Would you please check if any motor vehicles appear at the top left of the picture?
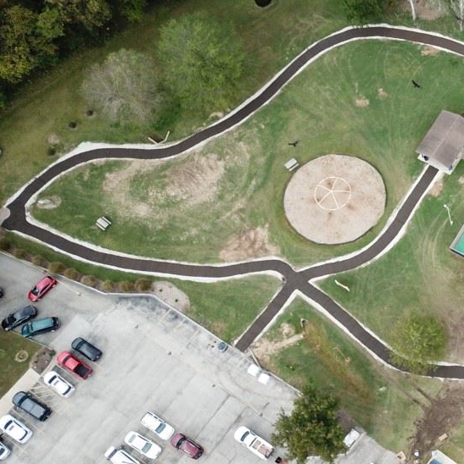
No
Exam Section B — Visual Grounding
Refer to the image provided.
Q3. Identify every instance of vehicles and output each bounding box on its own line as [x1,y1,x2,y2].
[23,317,61,339]
[172,433,203,460]
[0,416,33,444]
[1,304,41,334]
[140,412,175,441]
[56,352,92,381]
[29,273,58,305]
[126,431,161,460]
[233,428,274,461]
[102,447,139,464]
[71,338,104,363]
[44,373,75,398]
[0,443,13,462]
[14,393,51,422]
